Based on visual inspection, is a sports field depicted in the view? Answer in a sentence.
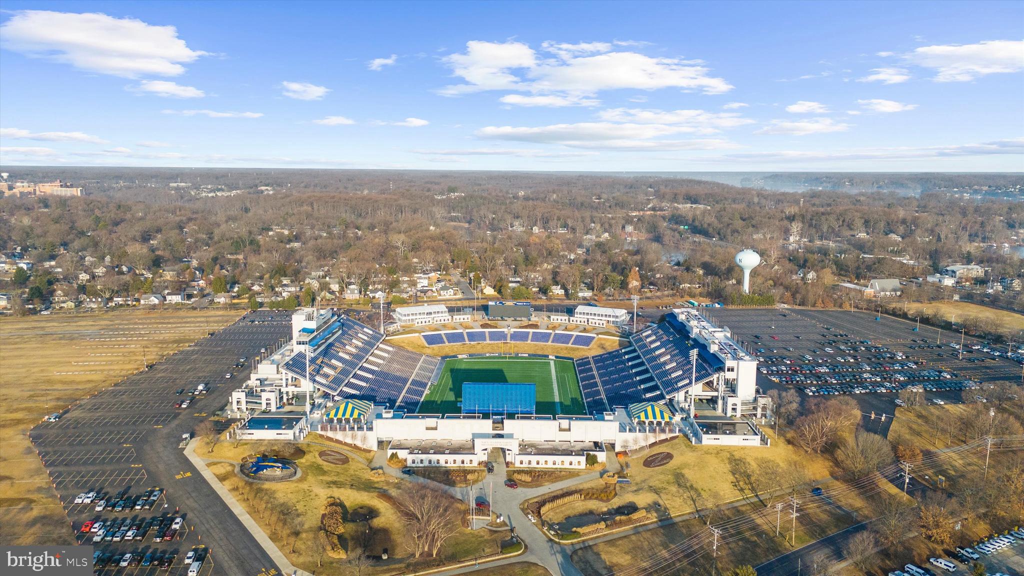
Yes, a sports field is visible in the scene.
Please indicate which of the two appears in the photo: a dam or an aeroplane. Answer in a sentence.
It is an aeroplane that can be seen here.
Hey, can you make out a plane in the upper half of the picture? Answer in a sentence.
No, no plane can be made out in the upper half of the picture.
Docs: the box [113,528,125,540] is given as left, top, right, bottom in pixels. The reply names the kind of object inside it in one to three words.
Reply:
vehicle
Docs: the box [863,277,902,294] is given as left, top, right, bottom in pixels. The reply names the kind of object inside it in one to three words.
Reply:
building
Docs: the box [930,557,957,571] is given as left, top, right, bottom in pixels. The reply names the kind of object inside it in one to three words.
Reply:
vehicle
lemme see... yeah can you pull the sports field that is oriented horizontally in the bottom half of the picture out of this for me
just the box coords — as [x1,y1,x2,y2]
[419,351,582,417]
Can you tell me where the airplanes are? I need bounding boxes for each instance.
[245,448,286,473]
